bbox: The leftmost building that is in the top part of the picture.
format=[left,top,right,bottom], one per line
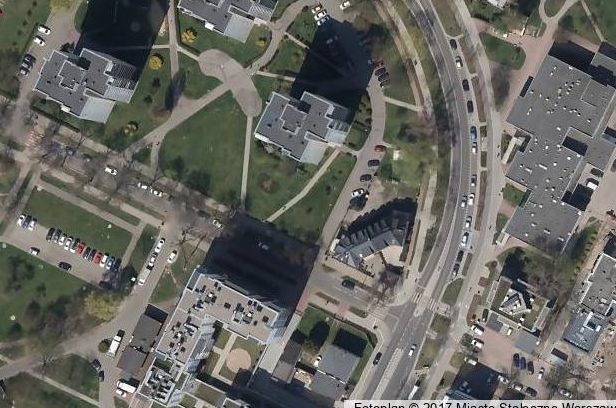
[34,48,141,119]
